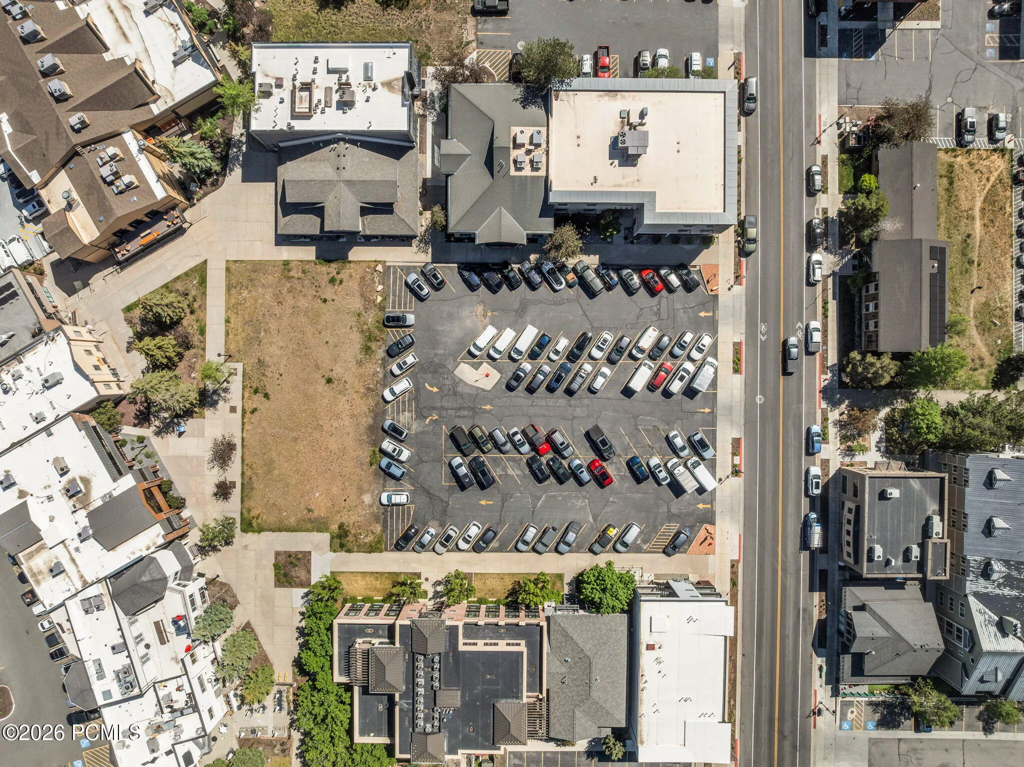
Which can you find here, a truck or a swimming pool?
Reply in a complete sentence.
There is a truck in the scene.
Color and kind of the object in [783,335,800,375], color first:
gray vehicle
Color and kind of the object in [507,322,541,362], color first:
white van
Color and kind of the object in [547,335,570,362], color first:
white car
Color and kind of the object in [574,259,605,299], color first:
gray truck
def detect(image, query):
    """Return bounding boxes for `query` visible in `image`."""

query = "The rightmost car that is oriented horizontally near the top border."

[987,2,1020,19]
